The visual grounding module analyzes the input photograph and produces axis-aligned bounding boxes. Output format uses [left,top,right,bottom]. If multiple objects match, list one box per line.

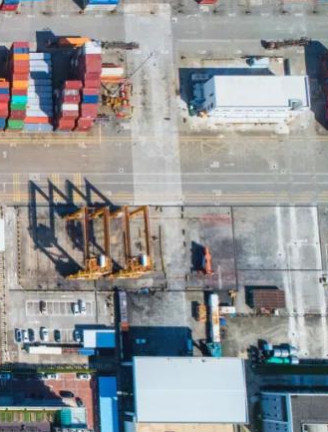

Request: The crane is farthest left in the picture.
[60,201,111,274]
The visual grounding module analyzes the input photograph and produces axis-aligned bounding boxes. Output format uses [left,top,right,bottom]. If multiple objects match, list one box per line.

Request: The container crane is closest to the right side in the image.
[100,201,155,274]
